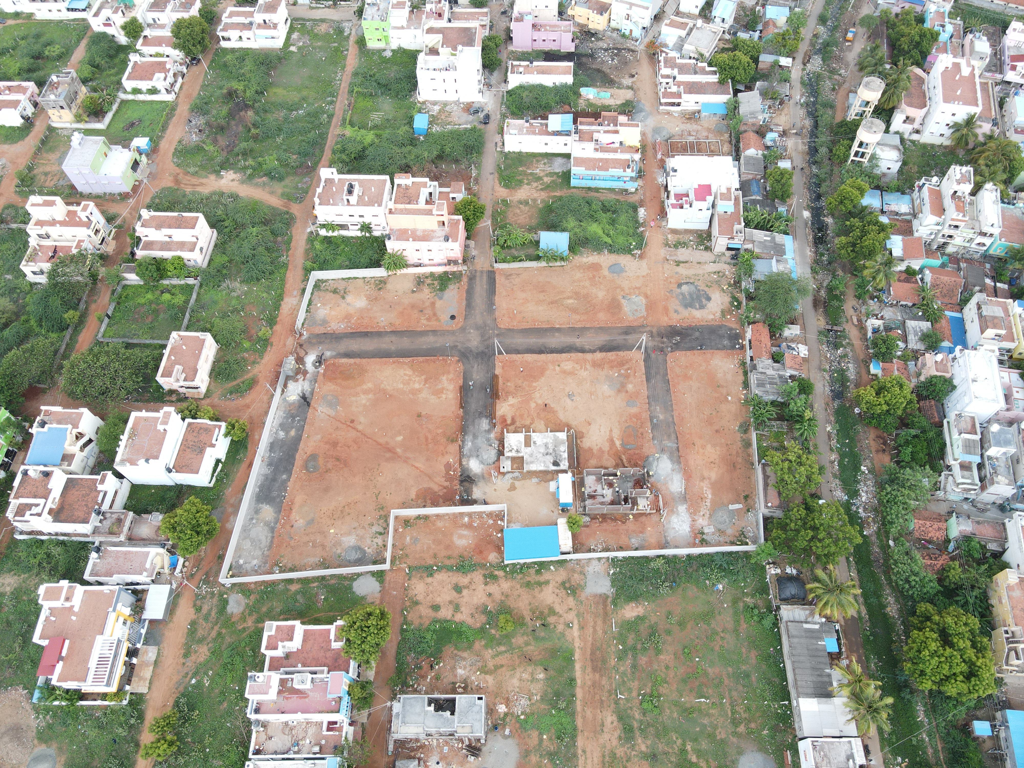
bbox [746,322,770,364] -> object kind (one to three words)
shed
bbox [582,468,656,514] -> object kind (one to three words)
house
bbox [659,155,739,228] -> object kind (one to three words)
house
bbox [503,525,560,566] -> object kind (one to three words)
shed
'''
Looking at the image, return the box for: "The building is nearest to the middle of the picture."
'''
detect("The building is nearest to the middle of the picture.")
[501,427,576,480]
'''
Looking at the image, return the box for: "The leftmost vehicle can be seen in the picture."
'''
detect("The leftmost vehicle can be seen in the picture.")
[125,246,138,259]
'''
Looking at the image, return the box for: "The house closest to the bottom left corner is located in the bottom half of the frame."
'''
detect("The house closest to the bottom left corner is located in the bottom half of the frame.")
[34,585,147,696]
